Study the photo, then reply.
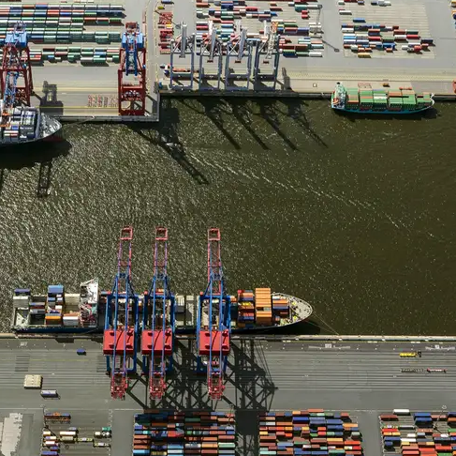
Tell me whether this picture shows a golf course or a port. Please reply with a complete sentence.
The area seen from above is a port.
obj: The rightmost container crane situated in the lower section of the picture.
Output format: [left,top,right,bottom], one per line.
[189,230,236,402]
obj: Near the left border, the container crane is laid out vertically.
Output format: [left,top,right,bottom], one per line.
[0,22,36,133]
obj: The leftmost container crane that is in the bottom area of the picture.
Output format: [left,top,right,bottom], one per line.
[100,229,143,400]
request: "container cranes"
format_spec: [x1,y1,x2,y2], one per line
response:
[100,229,143,400]
[165,23,197,93]
[0,22,36,133]
[112,22,153,115]
[193,23,224,93]
[189,230,236,402]
[222,23,253,93]
[253,23,286,93]
[136,229,182,402]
